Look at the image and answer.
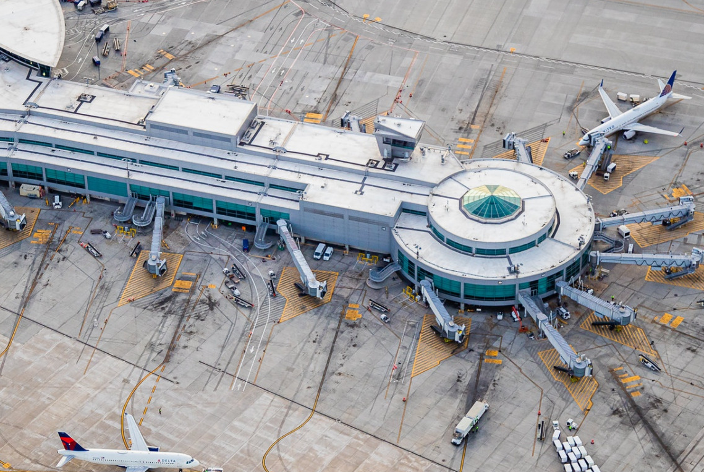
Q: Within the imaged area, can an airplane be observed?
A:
Yes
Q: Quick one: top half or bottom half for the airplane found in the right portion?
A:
top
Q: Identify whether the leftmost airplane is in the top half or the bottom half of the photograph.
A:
bottom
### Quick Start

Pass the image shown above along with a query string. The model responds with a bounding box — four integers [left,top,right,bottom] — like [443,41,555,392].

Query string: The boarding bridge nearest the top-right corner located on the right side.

[575,136,612,195]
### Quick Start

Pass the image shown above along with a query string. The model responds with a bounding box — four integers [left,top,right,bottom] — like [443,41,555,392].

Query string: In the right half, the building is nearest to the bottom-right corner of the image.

[393,161,596,313]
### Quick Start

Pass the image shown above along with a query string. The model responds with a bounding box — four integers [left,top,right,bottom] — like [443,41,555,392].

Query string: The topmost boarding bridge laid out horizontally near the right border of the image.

[595,201,697,244]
